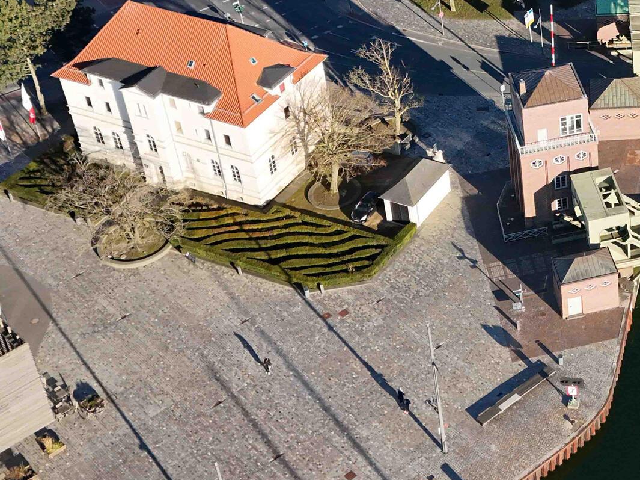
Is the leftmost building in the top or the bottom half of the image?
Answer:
bottom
